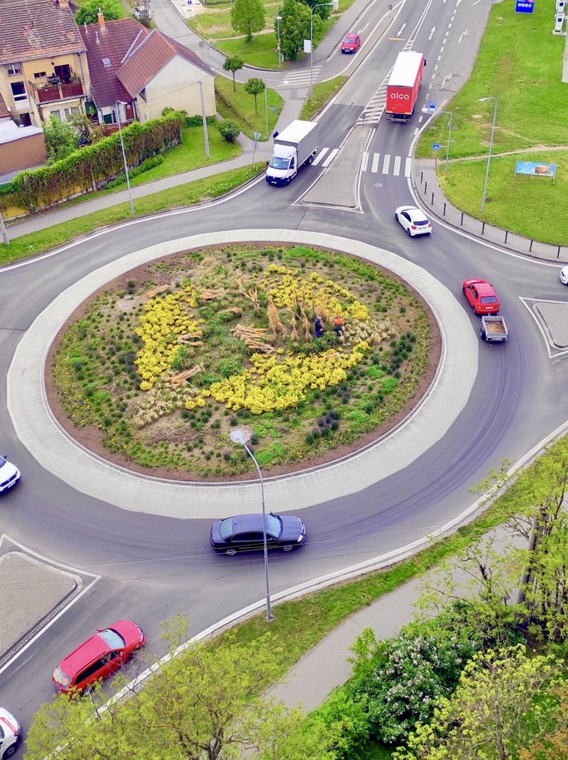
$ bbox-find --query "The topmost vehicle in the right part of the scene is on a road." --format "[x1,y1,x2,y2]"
[342,30,360,52]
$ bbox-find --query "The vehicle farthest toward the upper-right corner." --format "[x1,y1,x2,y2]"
[386,52,427,122]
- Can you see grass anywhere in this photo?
Yes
